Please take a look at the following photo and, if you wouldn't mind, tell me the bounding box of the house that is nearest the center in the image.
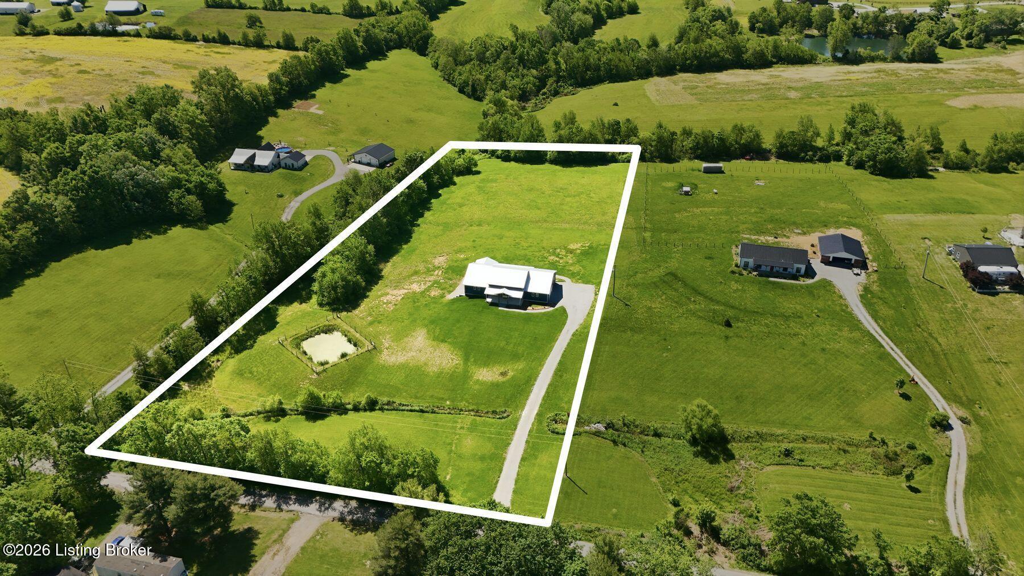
[463,252,556,306]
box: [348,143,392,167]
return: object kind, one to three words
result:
shed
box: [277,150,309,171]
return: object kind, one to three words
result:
building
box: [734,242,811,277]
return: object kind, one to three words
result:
house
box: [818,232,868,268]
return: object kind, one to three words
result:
building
